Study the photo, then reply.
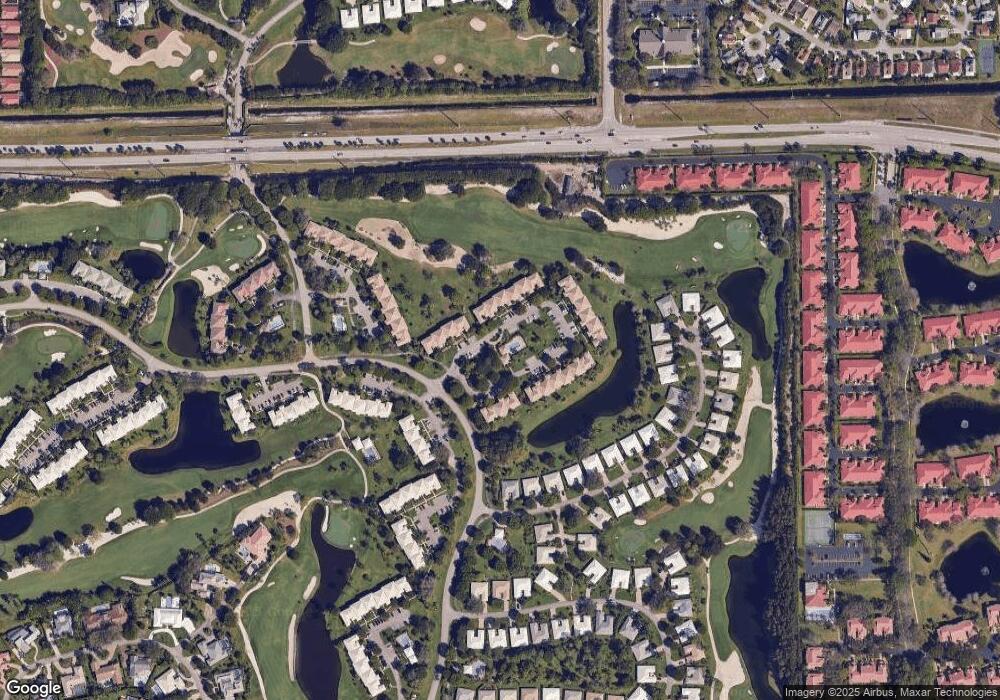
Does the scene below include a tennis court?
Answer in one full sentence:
Yes, a tennis court appears in the view.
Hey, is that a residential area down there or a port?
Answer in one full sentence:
It's a residential area.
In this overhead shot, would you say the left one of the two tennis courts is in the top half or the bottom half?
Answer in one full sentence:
The left one of the two tennis courts is in the bottom half of the image.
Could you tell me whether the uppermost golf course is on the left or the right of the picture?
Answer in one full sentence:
The uppermost golf course sits on the left side.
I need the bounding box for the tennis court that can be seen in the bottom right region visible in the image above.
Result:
[804,511,835,545]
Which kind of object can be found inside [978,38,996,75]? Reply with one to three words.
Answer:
tennis court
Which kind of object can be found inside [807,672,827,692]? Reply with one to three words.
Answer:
house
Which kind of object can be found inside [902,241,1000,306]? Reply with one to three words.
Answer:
pond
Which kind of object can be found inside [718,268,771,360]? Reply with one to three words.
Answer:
pond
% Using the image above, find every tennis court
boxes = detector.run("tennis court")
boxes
[978,38,996,75]
[804,511,835,545]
